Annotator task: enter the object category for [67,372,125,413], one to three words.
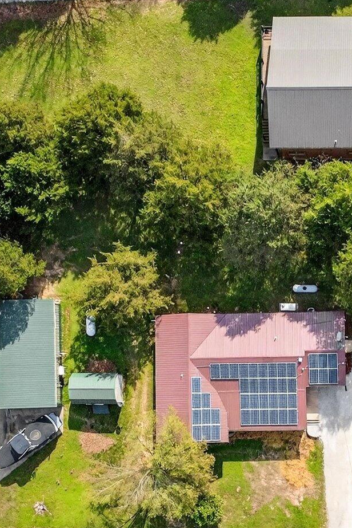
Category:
shed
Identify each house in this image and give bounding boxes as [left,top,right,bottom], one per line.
[267,16,352,159]
[0,299,66,409]
[155,312,345,442]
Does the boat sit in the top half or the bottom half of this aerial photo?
bottom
